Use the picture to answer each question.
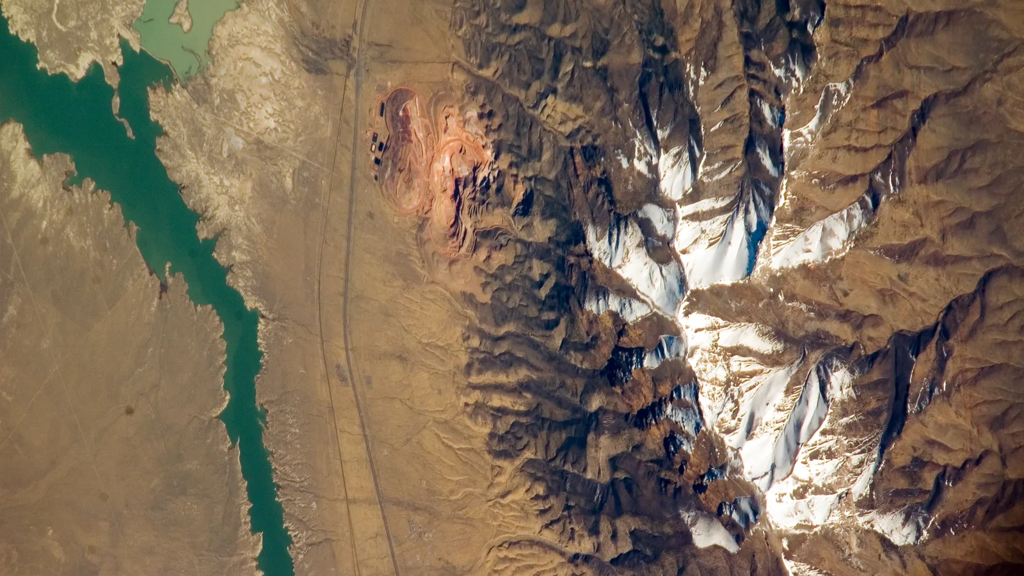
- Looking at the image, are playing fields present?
No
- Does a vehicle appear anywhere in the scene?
No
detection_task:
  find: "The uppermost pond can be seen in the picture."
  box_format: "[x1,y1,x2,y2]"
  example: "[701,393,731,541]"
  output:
[136,0,245,87]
